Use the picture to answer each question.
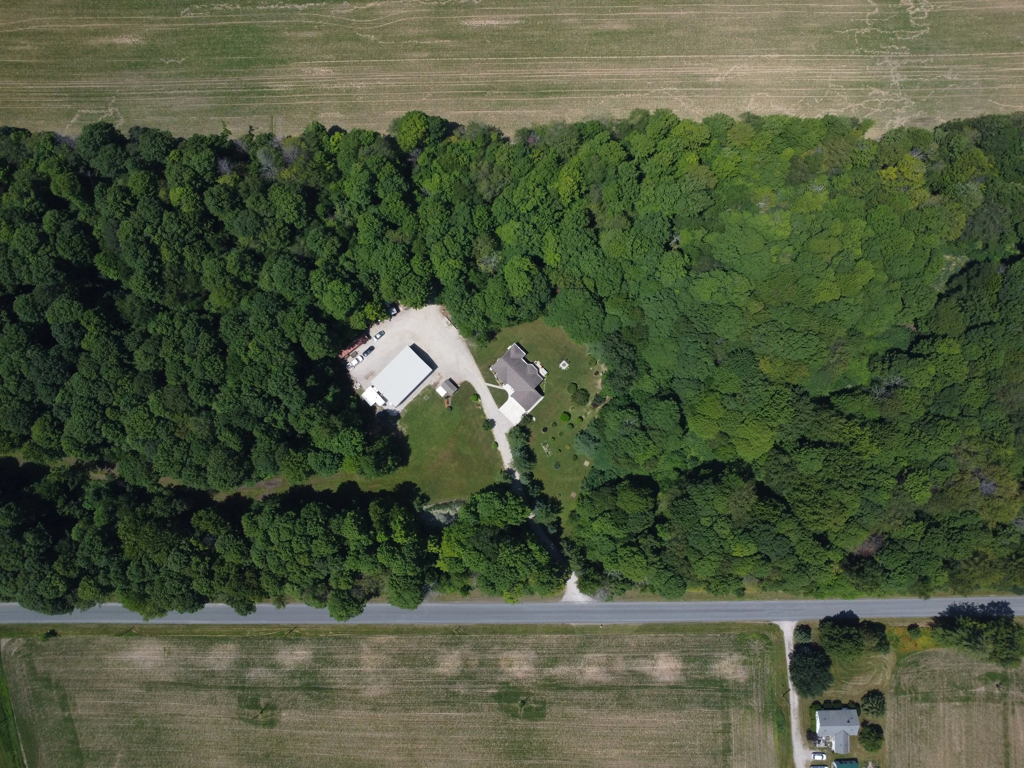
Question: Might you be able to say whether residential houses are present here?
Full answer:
Yes, the photo shows a residential house.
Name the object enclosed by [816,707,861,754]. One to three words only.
house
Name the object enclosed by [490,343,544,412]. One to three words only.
house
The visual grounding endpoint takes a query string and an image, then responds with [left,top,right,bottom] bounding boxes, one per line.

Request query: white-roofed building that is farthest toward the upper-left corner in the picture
[371,346,433,407]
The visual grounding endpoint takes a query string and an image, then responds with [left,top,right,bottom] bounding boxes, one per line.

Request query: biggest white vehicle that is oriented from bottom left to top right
[346,355,364,370]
